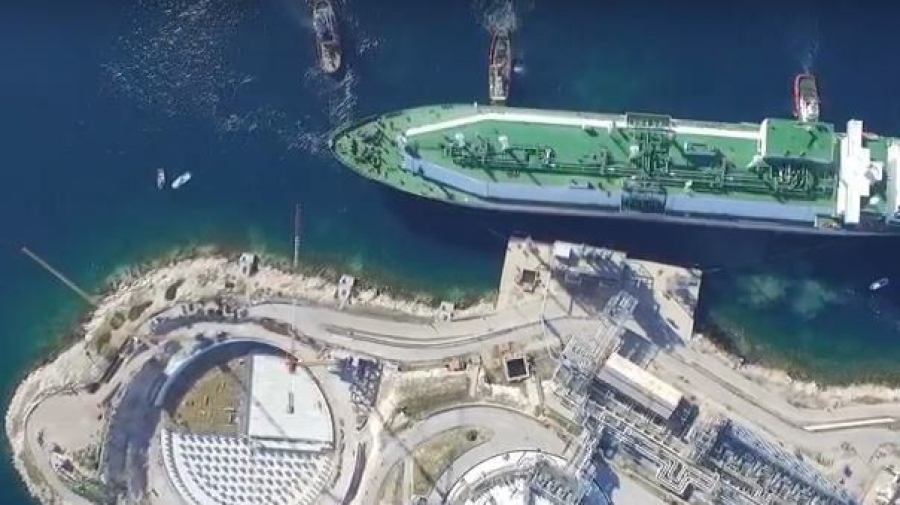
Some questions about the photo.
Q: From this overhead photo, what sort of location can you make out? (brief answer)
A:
port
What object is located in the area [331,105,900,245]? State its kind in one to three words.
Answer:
ship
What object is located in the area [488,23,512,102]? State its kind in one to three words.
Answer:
boat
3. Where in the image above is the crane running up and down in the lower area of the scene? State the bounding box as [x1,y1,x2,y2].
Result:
[283,201,345,411]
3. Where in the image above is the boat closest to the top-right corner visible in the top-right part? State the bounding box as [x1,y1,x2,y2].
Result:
[795,69,825,122]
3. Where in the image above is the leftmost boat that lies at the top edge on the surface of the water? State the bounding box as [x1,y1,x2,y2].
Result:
[305,0,339,76]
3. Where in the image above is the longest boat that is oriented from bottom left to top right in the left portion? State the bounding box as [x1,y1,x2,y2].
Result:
[168,171,190,190]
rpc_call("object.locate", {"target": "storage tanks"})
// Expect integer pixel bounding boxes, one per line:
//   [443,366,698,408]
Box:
[439,444,609,505]
[156,335,340,505]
